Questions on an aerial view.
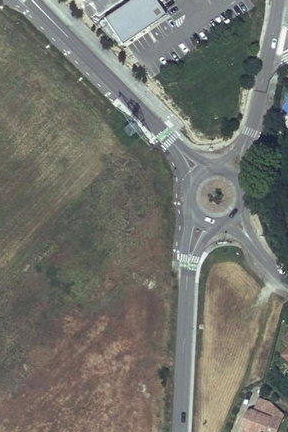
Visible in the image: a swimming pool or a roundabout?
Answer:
roundabout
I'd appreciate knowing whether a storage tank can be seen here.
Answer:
No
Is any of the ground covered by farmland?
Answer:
Yes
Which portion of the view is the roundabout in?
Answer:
right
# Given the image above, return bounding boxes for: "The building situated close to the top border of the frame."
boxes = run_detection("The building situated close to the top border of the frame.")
[106,0,167,44]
